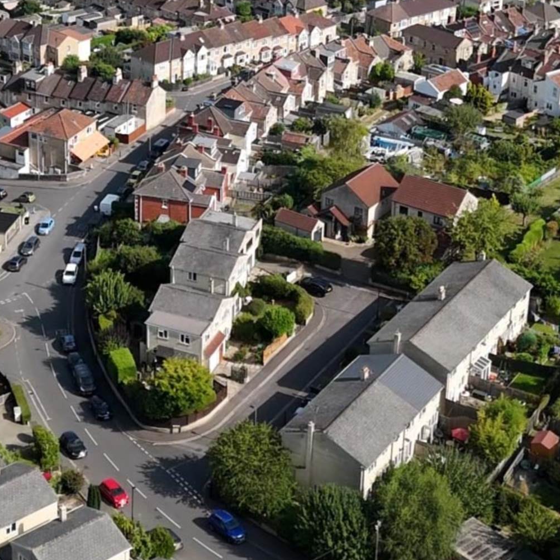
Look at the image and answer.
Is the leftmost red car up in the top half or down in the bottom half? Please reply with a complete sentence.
It is in the bottom half that the leftmost red car appears.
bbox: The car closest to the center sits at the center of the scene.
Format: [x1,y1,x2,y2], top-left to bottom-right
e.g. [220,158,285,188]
[302,276,333,294]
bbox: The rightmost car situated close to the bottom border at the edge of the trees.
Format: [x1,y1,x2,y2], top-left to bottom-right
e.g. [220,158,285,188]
[209,505,245,540]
